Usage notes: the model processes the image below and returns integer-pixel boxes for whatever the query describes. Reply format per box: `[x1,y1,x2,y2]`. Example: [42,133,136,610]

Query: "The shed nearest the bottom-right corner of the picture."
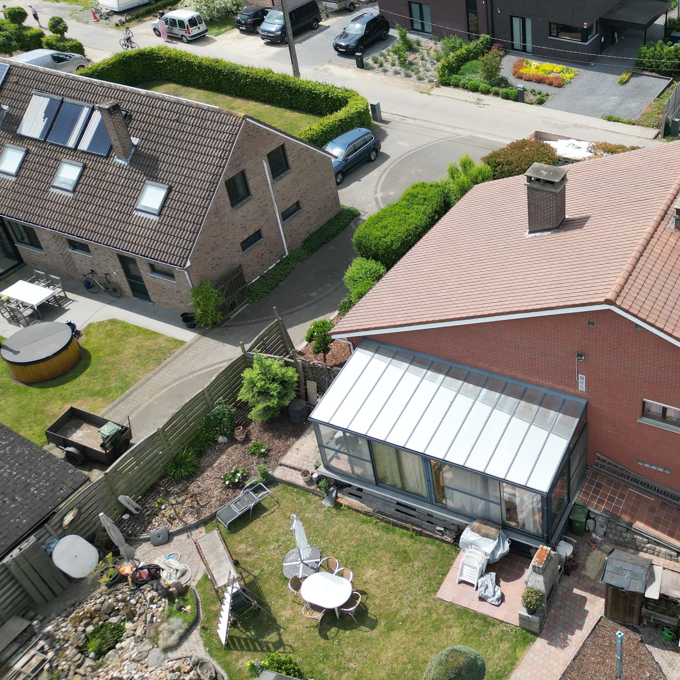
[601,548,654,624]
